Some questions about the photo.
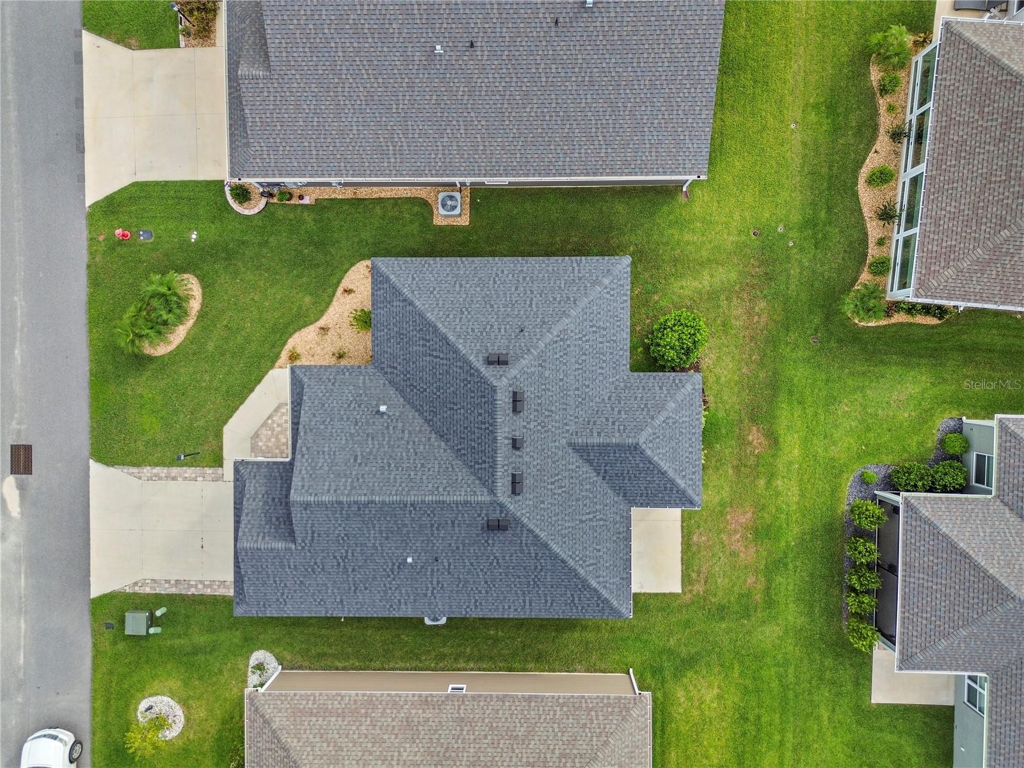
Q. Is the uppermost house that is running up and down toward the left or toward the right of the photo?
right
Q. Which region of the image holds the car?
bottom left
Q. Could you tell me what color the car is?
white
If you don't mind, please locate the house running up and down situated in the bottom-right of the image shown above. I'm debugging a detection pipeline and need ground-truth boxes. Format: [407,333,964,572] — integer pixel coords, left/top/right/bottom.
[872,414,1024,768]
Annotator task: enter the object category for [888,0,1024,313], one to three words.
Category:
house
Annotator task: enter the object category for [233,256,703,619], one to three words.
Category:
house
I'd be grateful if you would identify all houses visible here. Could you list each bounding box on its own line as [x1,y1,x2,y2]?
[227,0,727,193]
[888,0,1024,313]
[233,256,703,619]
[872,414,1024,768]
[246,661,652,768]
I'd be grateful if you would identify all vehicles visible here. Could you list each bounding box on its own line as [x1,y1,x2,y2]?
[17,720,89,768]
